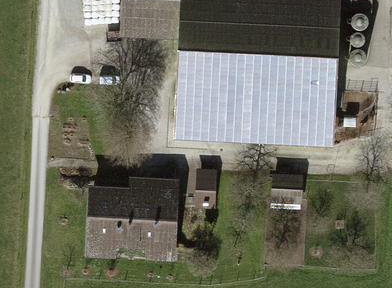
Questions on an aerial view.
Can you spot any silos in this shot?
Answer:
Yes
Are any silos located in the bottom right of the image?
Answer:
No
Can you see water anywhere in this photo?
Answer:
No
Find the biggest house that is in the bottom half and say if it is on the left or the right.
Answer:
left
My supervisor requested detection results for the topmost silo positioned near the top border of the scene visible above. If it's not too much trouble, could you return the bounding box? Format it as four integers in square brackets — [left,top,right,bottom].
[345,10,369,32]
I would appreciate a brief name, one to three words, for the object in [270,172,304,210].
shed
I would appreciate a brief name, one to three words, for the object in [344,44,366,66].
silo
